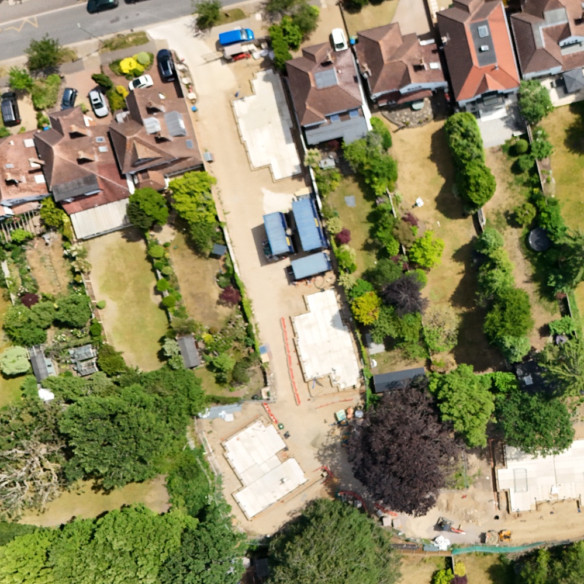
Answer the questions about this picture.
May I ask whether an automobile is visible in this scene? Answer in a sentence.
Yes, there is an automobile in the image.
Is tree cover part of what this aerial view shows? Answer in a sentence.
Yes, there is tree cover in the image.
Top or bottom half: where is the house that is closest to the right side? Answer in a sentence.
It is in the top half that the house that is closest to the right side appears.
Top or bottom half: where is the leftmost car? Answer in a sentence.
Seen from above, the leftmost car lies in the top half of the view.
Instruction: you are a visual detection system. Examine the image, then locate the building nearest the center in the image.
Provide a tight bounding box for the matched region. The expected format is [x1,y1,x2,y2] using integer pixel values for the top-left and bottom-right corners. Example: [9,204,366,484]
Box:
[290,252,333,281]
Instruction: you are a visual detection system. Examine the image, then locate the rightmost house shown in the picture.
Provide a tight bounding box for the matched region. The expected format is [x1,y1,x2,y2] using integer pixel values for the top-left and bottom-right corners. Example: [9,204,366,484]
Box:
[510,0,584,80]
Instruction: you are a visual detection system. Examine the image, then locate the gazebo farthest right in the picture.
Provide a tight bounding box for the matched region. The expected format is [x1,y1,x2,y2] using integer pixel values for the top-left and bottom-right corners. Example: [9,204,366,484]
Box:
[561,68,584,96]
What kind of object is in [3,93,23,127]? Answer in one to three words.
car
